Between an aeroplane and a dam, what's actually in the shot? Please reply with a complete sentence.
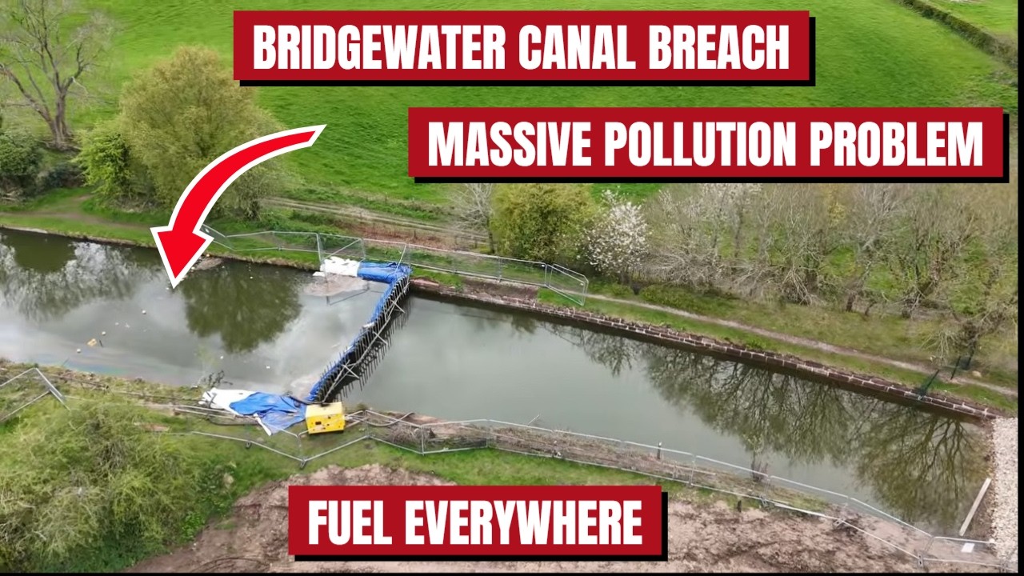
Of the two, only a dam appears.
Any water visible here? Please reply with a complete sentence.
Yes, water can be seen from above here.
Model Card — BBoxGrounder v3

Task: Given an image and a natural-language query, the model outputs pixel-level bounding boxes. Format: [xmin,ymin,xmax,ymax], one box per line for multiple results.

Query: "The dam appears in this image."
[301,272,414,406]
